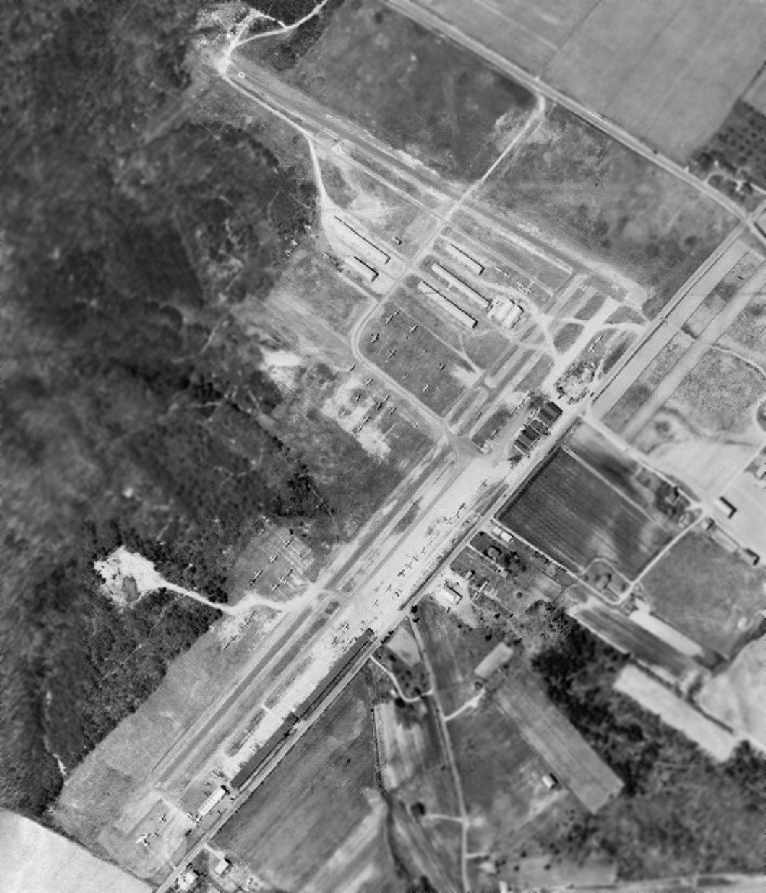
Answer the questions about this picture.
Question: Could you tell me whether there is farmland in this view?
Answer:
Yes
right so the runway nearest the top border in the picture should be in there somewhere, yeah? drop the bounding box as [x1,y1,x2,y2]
[229,51,650,309]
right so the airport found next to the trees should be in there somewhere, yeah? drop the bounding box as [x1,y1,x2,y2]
[120,51,650,868]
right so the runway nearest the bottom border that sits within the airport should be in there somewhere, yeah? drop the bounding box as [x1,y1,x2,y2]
[150,266,622,798]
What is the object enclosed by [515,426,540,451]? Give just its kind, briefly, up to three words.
hangar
